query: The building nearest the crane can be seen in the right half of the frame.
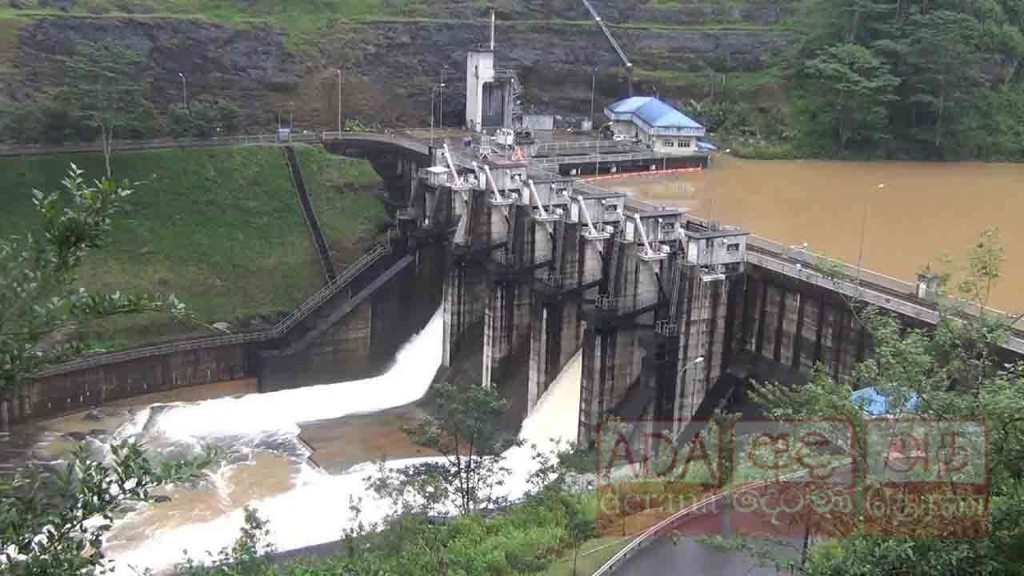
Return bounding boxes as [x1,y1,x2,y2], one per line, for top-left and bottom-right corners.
[603,78,704,151]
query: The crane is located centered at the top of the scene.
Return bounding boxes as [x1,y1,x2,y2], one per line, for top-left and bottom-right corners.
[582,0,633,97]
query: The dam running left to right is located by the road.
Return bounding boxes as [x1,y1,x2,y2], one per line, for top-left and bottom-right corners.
[252,134,1024,485]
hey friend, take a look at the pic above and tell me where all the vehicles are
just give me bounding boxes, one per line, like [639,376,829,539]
[513,130,545,148]
[610,133,635,142]
[483,133,520,147]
